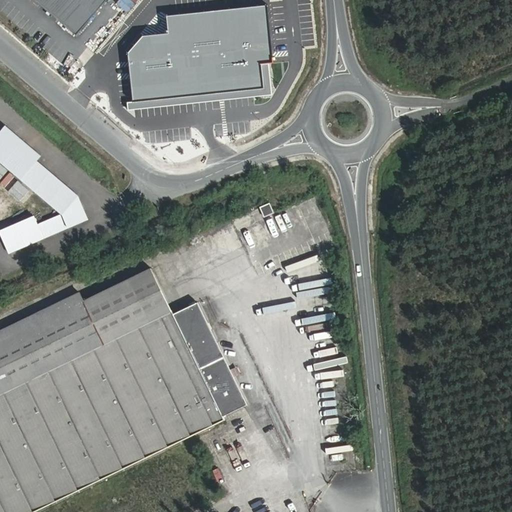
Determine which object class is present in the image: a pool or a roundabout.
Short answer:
roundabout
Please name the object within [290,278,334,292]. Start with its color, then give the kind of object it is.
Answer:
white vehicle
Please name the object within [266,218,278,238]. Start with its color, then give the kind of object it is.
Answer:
white vehicle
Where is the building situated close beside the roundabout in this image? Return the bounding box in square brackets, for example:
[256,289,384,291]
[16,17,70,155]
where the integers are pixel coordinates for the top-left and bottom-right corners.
[127,6,272,110]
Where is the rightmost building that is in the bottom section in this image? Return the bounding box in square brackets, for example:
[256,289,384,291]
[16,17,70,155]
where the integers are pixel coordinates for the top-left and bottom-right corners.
[174,303,247,416]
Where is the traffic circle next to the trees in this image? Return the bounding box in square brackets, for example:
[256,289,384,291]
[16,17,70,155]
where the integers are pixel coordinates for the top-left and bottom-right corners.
[306,76,388,158]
